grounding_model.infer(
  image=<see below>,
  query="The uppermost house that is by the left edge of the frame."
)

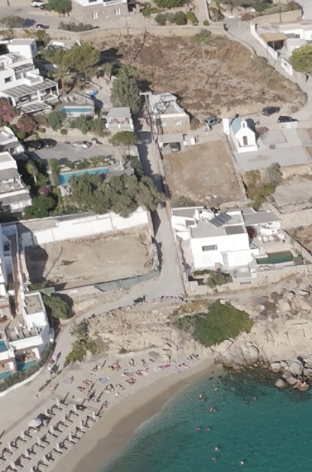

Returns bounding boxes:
[0,39,60,117]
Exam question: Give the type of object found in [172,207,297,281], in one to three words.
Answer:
house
